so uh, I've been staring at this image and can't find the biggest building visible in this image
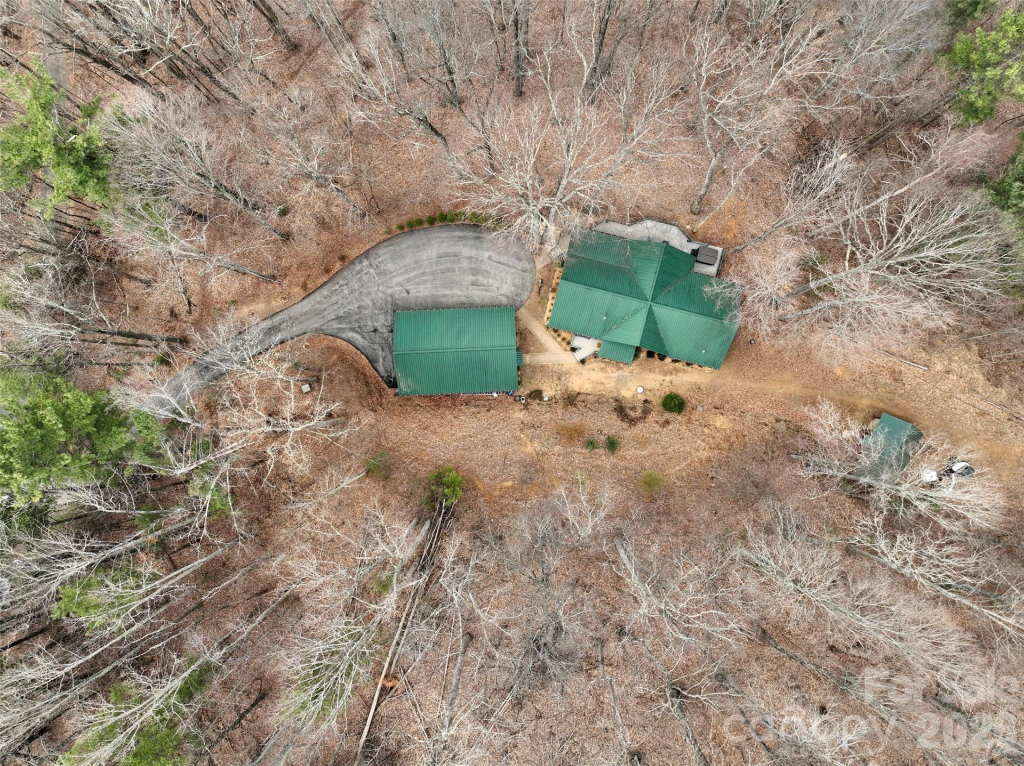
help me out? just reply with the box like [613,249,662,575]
[548,218,742,370]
